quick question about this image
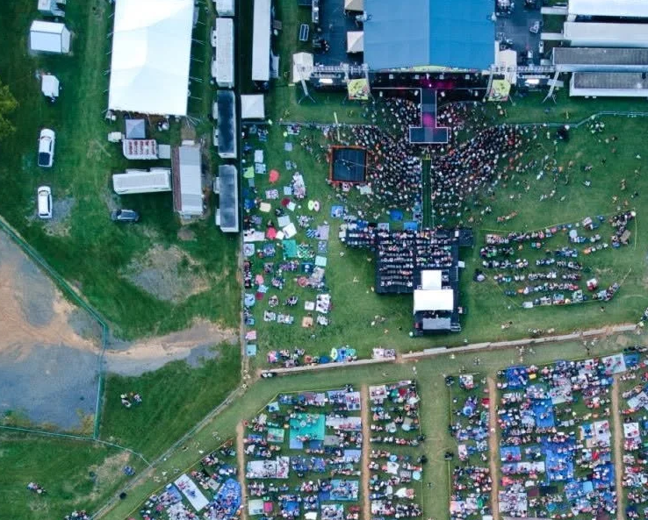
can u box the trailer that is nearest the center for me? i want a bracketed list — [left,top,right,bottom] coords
[216,166,241,235]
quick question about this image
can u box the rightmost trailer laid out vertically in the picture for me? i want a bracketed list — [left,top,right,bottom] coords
[251,0,278,87]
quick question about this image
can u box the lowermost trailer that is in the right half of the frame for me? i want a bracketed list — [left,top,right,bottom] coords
[571,75,648,102]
